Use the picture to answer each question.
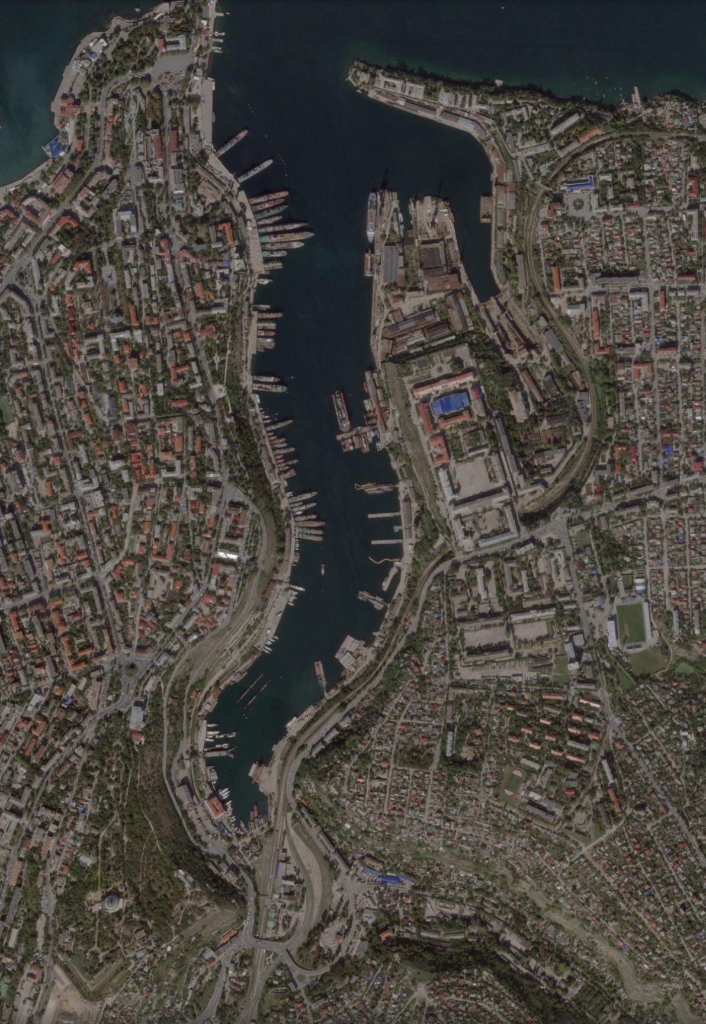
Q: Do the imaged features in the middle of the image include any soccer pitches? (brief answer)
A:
No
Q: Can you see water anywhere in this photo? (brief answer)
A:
Yes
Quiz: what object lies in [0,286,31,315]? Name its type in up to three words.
building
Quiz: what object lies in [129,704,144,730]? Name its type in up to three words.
building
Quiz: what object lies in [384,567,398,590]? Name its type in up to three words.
ship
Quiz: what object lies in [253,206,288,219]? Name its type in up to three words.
ship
